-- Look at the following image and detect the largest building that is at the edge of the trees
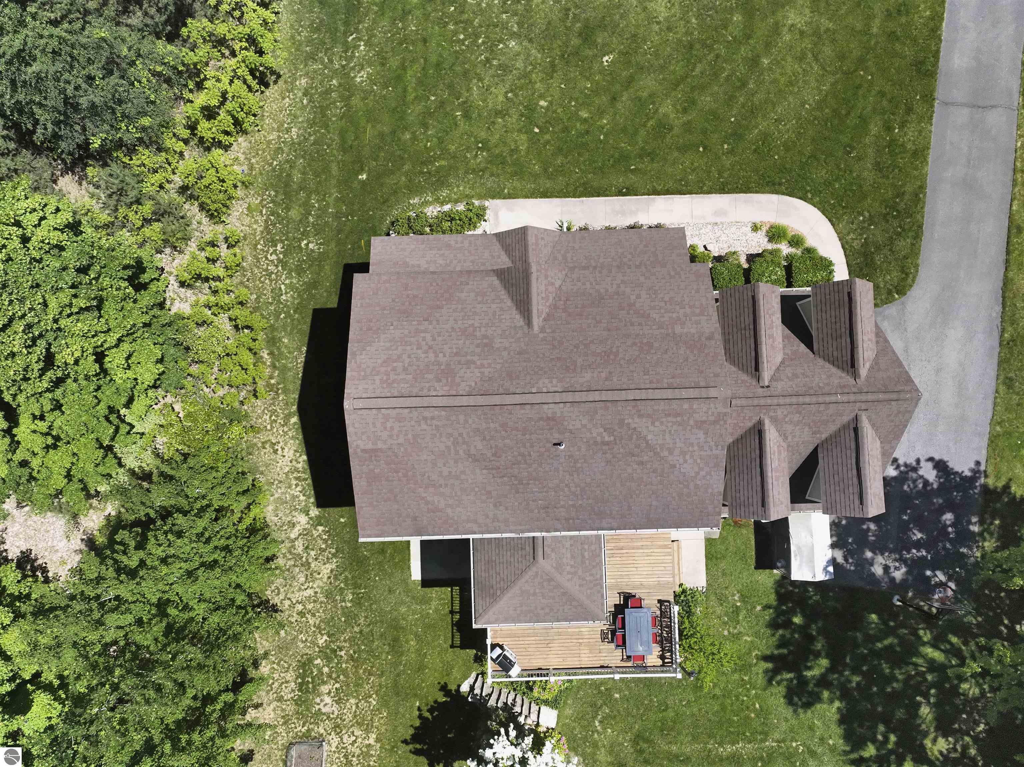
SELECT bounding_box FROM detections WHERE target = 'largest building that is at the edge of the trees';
[345,219,922,629]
